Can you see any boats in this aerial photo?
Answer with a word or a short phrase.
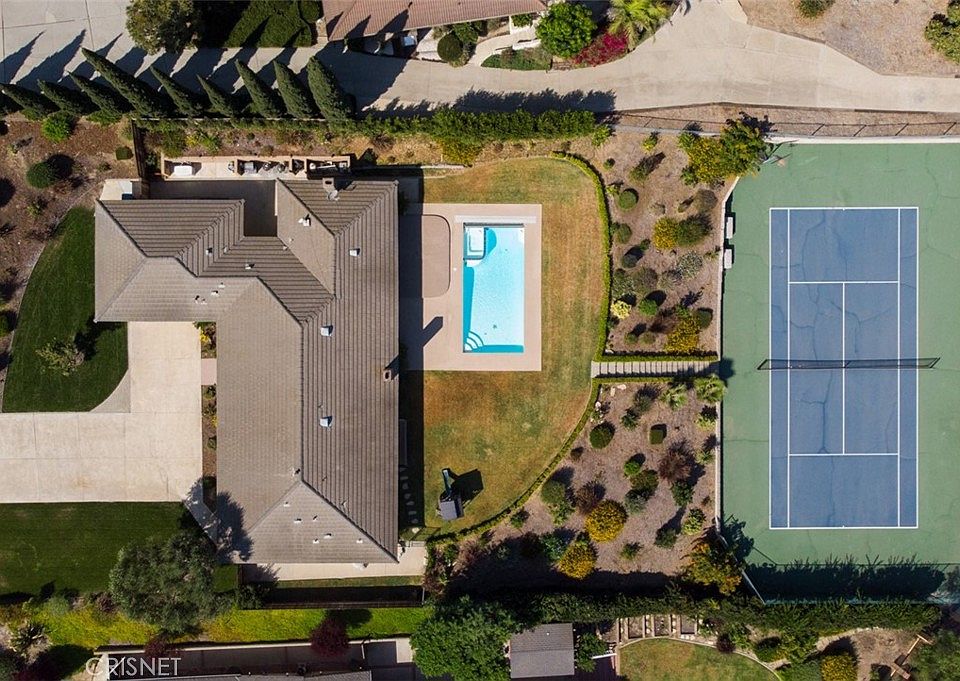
No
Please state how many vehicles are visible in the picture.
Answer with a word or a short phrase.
none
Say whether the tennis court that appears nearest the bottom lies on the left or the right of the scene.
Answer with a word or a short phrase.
right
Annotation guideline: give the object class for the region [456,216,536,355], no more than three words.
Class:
swimming pool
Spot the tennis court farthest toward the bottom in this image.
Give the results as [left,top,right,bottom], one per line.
[718,146,960,606]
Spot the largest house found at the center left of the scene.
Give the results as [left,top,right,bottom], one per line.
[94,178,399,564]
